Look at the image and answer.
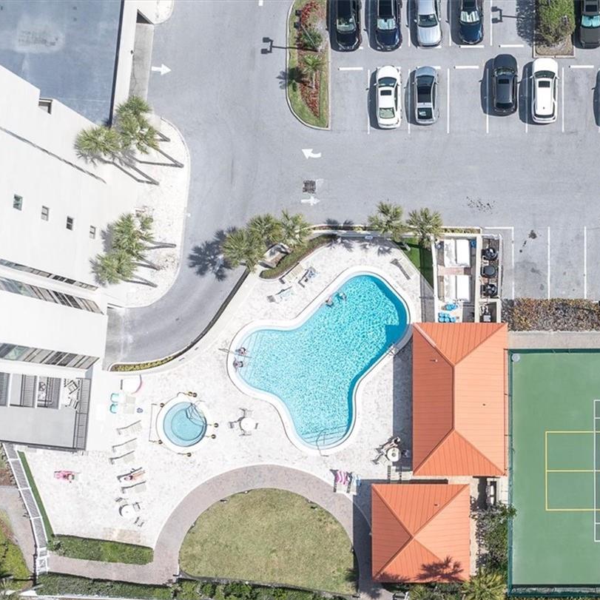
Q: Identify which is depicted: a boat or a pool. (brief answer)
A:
pool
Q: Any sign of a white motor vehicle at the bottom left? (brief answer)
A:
No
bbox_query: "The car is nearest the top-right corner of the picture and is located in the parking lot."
[577,0,600,52]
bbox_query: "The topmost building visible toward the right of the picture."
[413,323,508,476]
